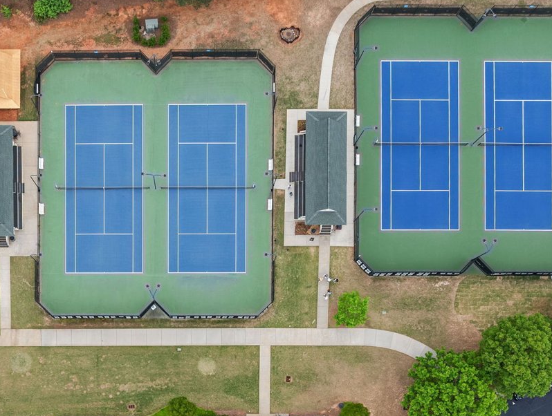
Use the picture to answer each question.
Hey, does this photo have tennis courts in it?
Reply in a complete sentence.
Yes, this view includes a tennis court.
